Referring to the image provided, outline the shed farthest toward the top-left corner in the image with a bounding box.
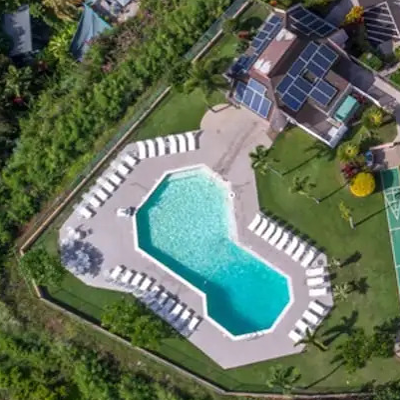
[3,5,42,60]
